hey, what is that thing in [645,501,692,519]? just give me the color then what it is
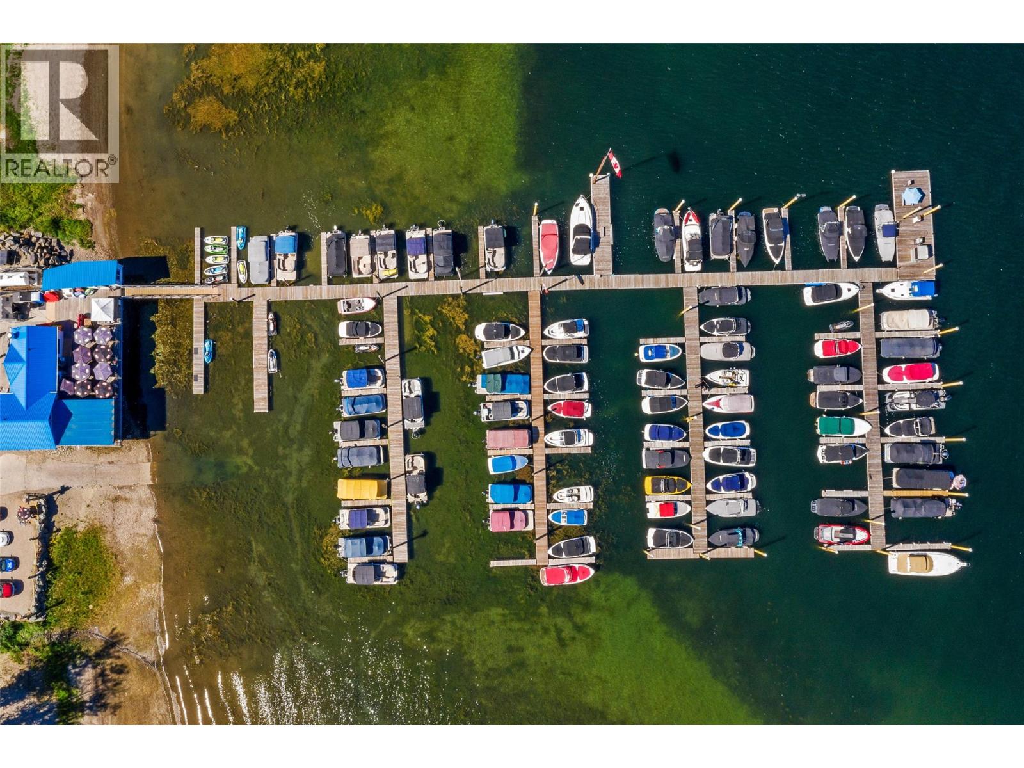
white boat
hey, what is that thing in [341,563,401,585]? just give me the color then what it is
gray boat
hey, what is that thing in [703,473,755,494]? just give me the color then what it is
blue boat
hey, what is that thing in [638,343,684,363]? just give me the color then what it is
blue boat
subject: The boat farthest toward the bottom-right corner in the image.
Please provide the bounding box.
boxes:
[885,551,972,576]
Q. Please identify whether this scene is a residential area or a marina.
marina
